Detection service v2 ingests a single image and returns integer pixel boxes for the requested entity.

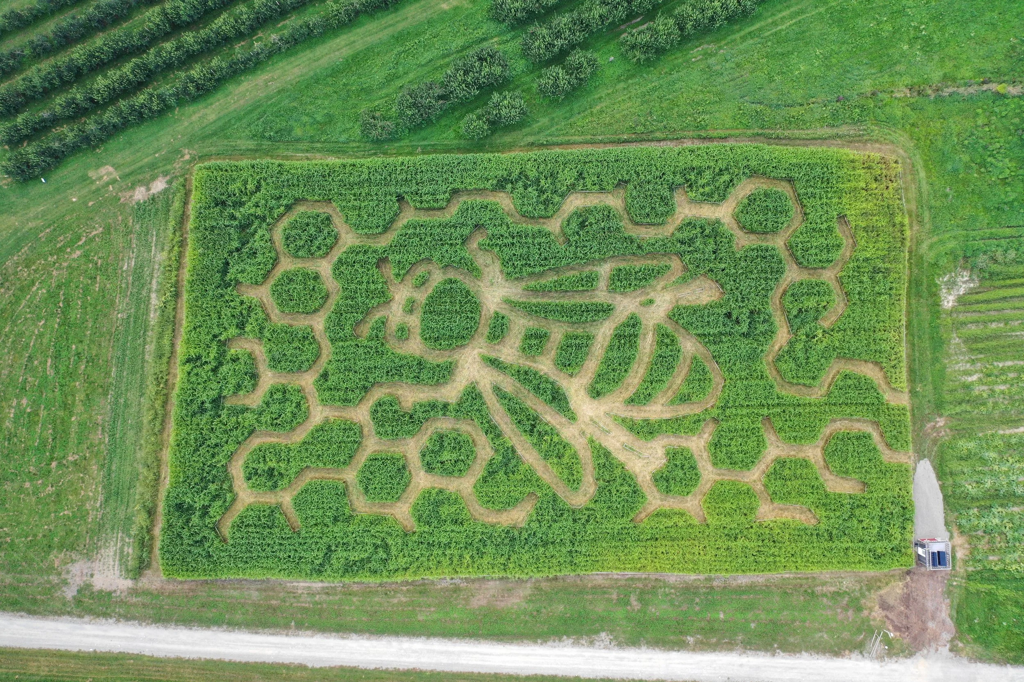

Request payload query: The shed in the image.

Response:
[916,536,951,570]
